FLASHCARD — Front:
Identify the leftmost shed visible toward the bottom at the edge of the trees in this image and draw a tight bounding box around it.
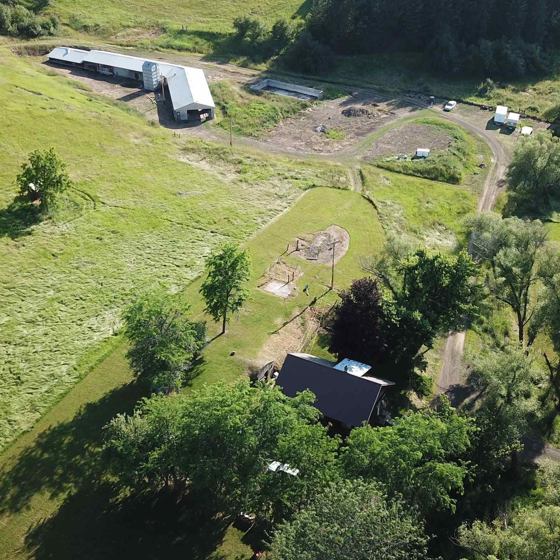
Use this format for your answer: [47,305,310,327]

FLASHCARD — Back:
[249,353,279,388]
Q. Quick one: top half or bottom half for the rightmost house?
bottom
